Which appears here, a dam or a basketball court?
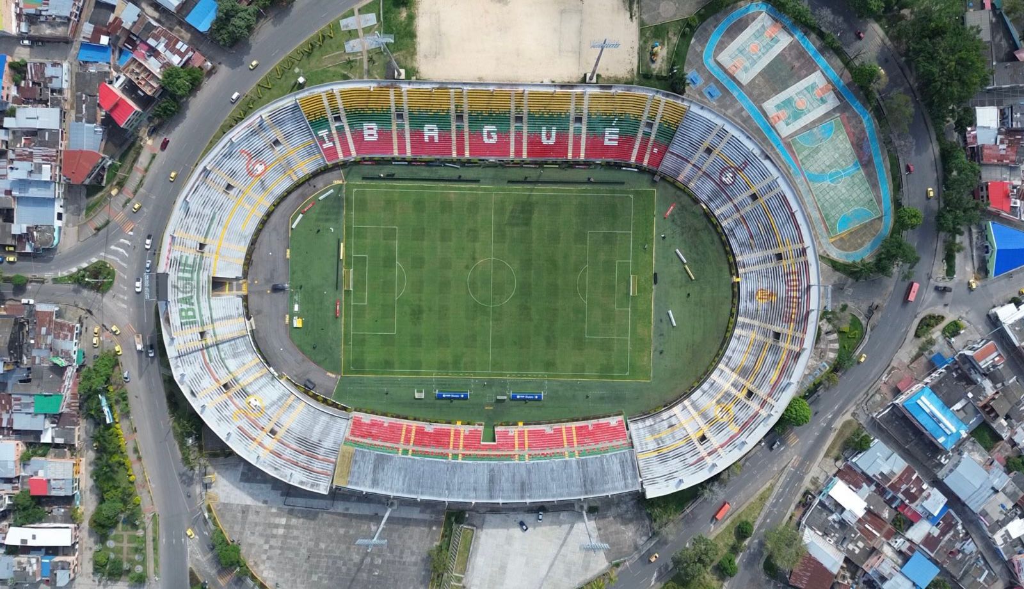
basketball court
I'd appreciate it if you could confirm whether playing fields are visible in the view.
Yes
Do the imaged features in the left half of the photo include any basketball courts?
No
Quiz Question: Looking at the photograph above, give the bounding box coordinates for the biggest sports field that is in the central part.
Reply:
[343,184,655,381]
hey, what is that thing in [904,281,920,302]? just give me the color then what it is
red vehicle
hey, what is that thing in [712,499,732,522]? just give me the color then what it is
red bus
